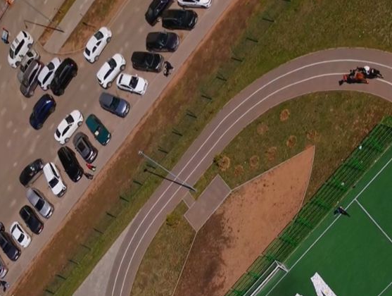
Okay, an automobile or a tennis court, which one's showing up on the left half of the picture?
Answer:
automobile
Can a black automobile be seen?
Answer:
Yes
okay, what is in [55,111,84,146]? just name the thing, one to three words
car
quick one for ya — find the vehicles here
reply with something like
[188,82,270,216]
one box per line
[144,0,177,28]
[86,28,112,65]
[100,92,129,117]
[28,92,56,132]
[161,7,198,32]
[86,114,110,146]
[41,162,67,197]
[28,188,53,219]
[9,219,32,250]
[21,58,44,98]
[55,111,84,146]
[15,155,45,190]
[17,48,42,84]
[37,56,63,91]
[20,205,43,234]
[56,146,84,183]
[0,231,20,261]
[129,51,164,74]
[50,58,78,98]
[177,0,211,11]
[98,53,126,90]
[70,130,98,165]
[117,74,149,96]
[146,31,178,53]
[8,31,34,69]
[0,253,10,281]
